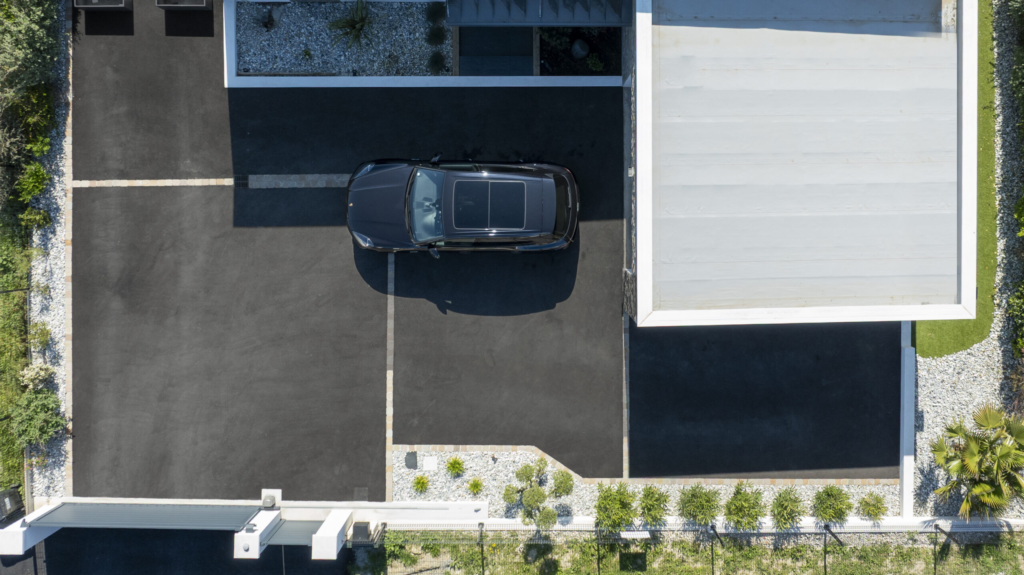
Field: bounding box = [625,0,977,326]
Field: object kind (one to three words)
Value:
building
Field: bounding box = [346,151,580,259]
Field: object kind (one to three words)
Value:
car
